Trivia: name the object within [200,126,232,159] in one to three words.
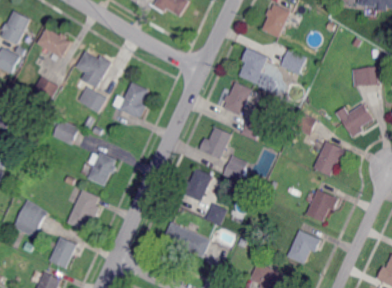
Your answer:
house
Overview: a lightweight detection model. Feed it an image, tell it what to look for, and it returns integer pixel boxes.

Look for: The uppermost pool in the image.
[306,31,324,49]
